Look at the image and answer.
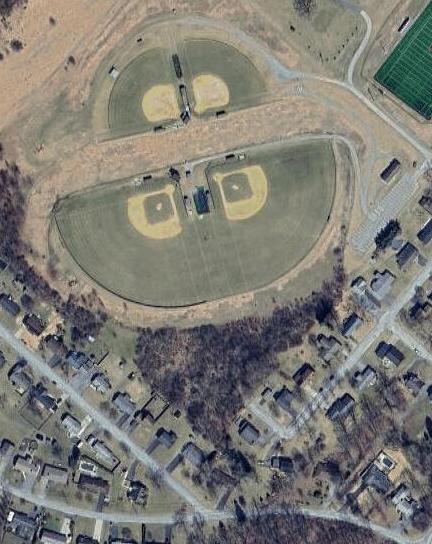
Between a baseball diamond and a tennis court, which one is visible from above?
baseball diamond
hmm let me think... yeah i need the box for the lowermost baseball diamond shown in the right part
[189,135,336,302]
